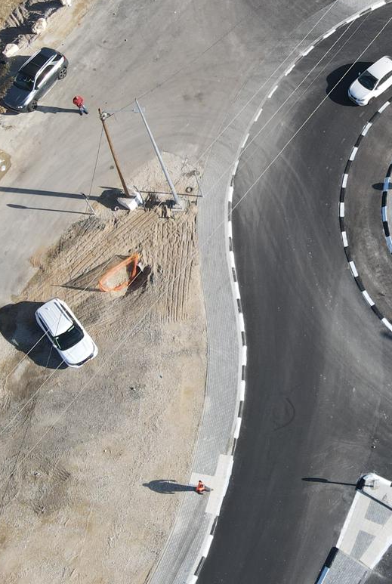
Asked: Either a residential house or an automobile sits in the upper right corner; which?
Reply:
automobile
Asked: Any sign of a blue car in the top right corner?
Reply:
No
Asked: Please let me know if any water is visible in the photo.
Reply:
No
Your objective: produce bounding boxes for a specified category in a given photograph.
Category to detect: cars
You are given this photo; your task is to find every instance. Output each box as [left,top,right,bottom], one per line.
[346,52,392,105]
[33,296,103,369]
[0,46,66,114]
